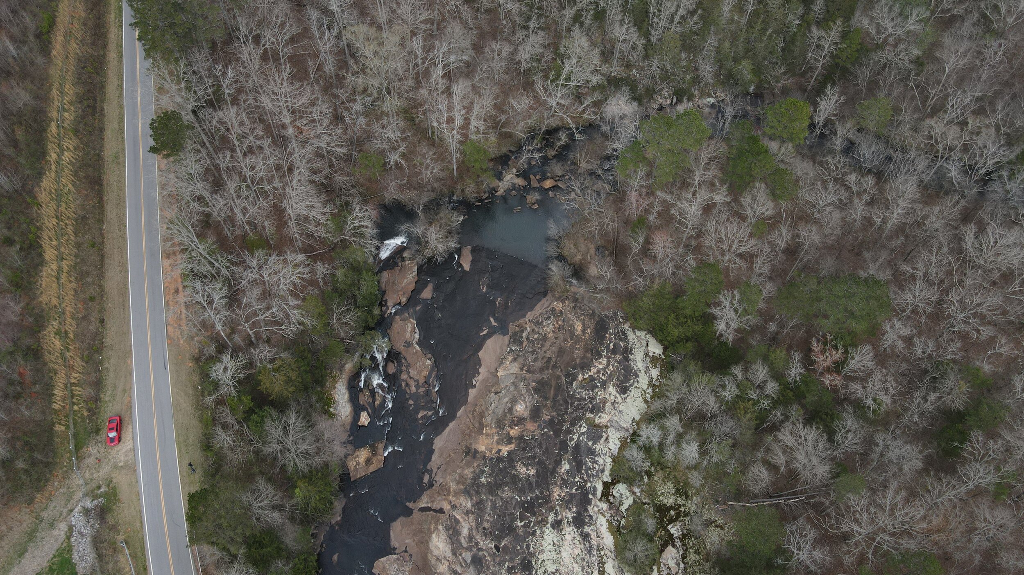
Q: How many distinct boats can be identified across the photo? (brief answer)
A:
none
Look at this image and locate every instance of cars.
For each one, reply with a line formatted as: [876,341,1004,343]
[105,416,123,447]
